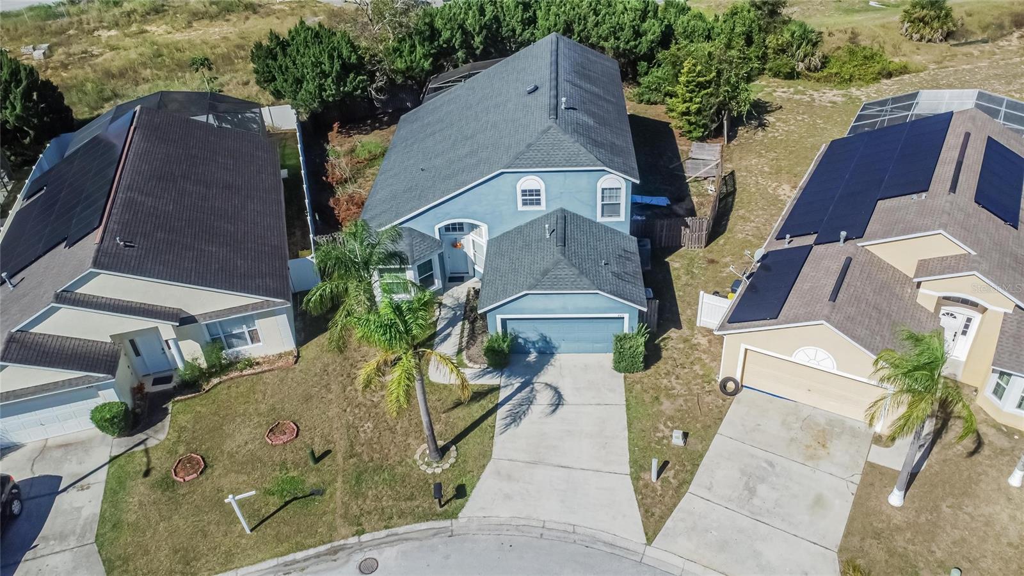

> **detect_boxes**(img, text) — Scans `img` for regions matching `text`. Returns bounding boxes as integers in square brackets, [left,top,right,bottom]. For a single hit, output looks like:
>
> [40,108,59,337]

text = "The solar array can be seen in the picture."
[0,111,130,280]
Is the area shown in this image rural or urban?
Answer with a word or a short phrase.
urban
